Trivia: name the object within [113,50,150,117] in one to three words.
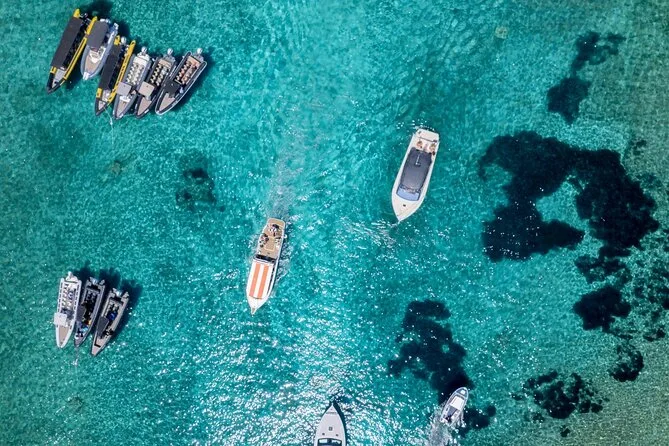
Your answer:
boat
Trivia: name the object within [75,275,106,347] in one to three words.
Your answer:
boat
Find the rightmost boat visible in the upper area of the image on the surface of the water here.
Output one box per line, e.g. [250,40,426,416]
[393,128,438,221]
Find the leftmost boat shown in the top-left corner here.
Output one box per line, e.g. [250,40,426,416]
[48,8,96,92]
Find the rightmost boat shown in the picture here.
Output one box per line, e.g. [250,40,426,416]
[440,387,468,426]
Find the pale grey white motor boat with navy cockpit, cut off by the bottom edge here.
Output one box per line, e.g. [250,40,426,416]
[315,402,348,446]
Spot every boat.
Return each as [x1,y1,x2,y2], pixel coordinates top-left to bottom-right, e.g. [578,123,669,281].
[92,285,131,355]
[156,51,206,114]
[440,387,468,426]
[83,15,118,80]
[54,272,83,347]
[247,216,286,315]
[75,275,106,347]
[113,50,150,117]
[95,33,134,115]
[315,402,348,446]
[137,52,174,117]
[393,128,438,221]
[48,8,96,92]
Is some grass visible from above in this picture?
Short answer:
No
